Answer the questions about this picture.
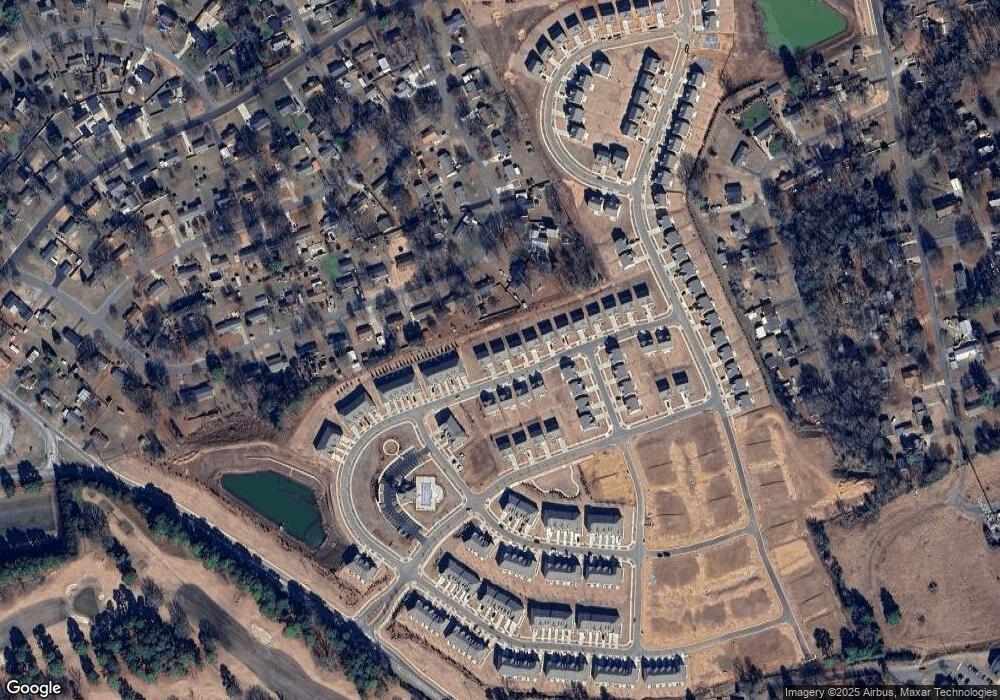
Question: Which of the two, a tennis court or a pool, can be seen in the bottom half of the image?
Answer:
pool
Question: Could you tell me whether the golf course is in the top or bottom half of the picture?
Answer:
bottom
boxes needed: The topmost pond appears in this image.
[754,0,849,55]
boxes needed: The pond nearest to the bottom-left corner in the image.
[218,469,327,551]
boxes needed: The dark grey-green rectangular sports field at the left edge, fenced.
[0,494,56,540]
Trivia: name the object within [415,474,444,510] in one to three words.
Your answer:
swimming pool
